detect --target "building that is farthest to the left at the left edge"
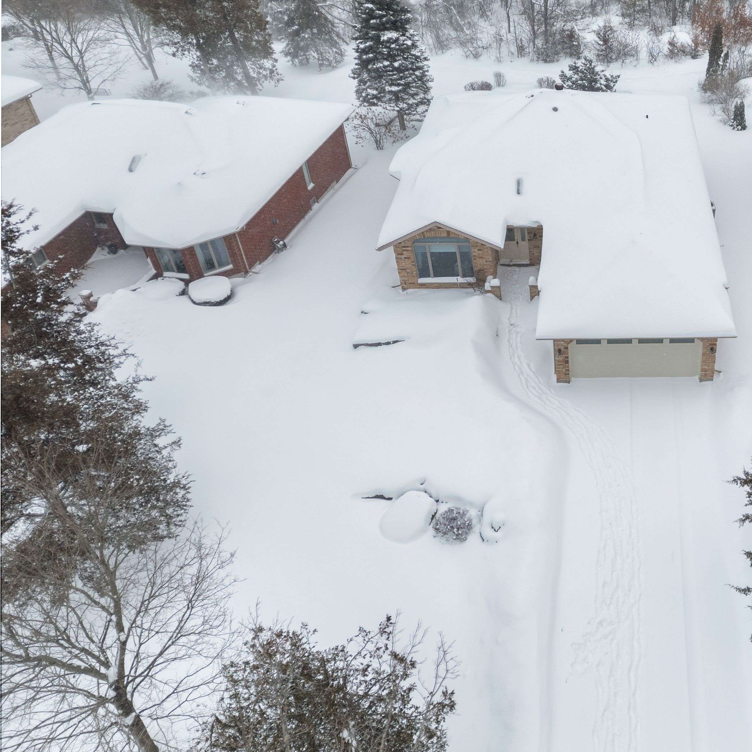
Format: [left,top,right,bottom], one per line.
[0,73,40,146]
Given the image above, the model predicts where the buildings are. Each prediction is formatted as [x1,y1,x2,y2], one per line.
[0,87,363,329]
[377,76,739,385]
